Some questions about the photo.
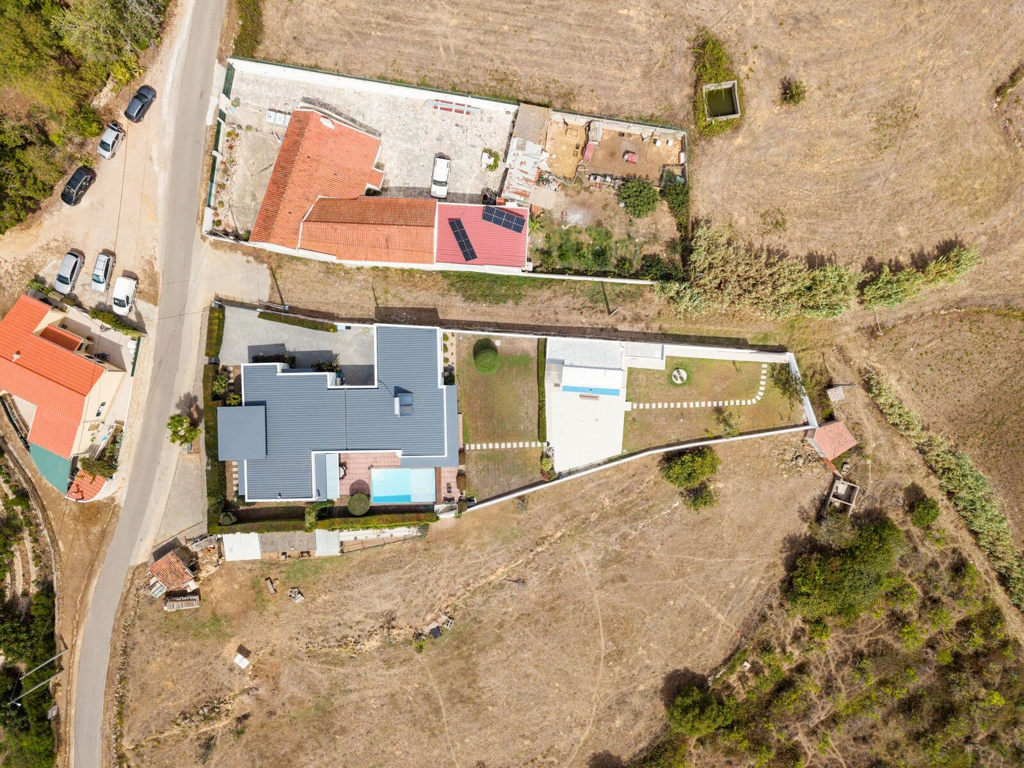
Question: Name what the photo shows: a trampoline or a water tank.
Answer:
water tank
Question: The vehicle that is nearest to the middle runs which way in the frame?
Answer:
up and down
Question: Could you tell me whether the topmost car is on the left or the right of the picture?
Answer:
left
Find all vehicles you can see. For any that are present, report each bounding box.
[55,251,86,293]
[61,165,97,206]
[111,275,138,316]
[430,153,451,199]
[124,84,157,124]
[99,118,127,160]
[90,251,116,293]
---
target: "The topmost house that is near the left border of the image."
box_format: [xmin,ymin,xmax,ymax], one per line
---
[0,293,129,461]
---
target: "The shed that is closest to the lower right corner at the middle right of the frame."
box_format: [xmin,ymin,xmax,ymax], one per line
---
[806,421,858,461]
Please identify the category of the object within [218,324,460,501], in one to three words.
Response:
house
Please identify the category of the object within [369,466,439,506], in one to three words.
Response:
swimming pool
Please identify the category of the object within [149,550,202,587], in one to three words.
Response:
shed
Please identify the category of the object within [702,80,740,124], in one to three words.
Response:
water tank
